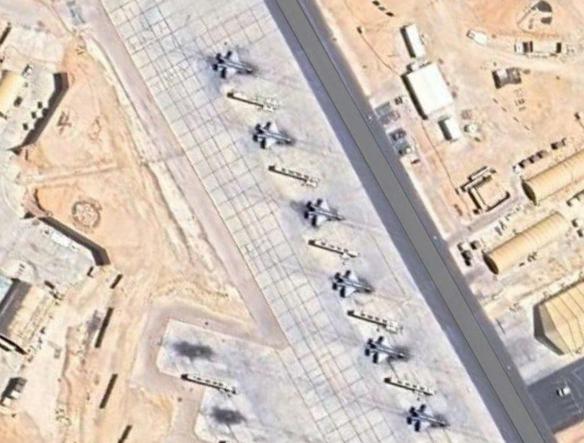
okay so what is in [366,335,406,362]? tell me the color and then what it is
gray airplane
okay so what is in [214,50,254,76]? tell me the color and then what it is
gray airplane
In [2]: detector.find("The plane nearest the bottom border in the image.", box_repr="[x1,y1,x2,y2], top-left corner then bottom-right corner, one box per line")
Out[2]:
[409,405,449,431]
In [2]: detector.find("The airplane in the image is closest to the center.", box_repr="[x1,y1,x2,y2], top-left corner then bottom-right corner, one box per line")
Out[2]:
[306,198,346,225]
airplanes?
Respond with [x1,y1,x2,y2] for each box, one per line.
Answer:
[409,405,449,431]
[214,50,254,76]
[253,120,293,145]
[306,198,346,225]
[366,335,406,362]
[334,270,375,296]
